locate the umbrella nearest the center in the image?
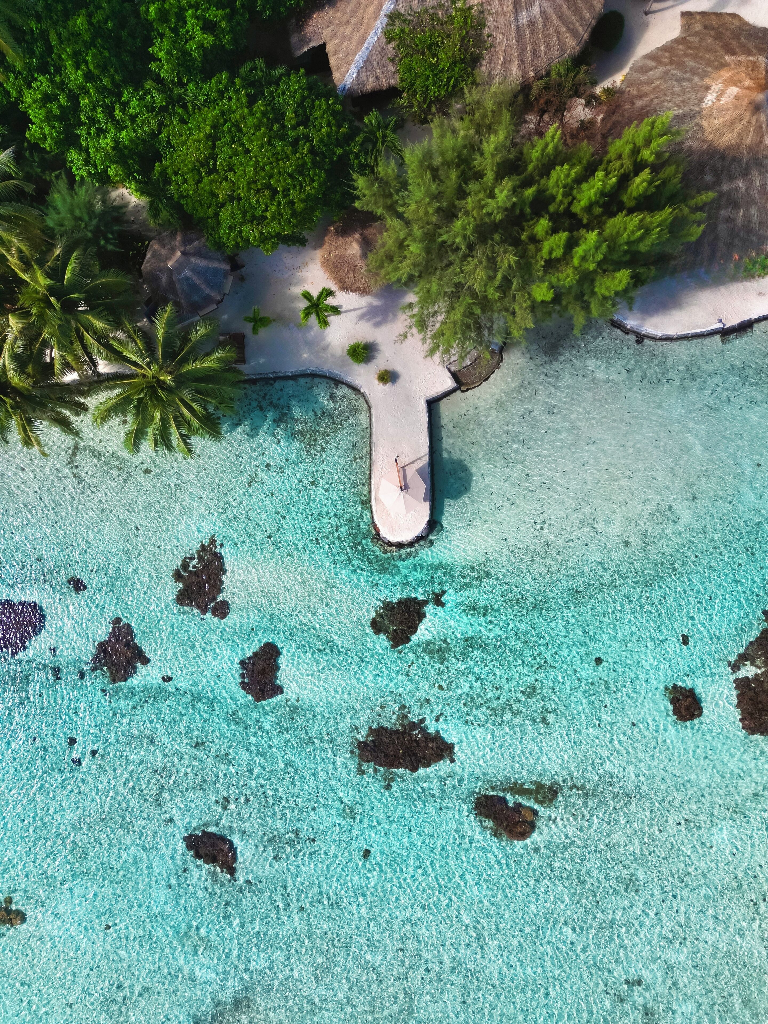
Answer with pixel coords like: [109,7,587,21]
[378,456,426,514]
